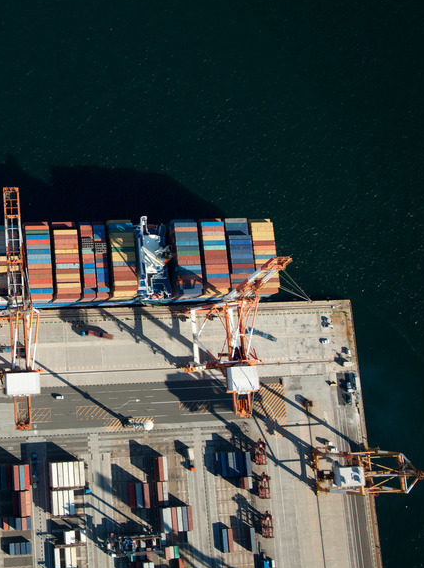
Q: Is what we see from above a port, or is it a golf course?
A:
port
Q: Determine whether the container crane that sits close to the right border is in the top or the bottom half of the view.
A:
bottom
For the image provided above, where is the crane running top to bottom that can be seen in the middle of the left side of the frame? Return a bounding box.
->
[0,185,48,430]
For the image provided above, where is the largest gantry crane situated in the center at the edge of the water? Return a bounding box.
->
[173,254,285,418]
